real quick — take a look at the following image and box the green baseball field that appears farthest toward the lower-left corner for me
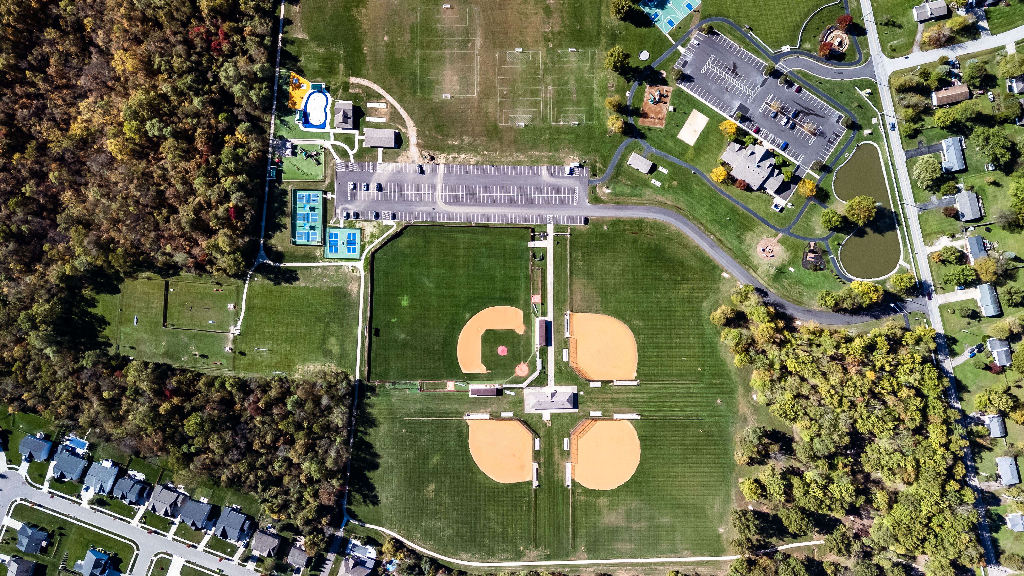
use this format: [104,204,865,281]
[339,254,536,416]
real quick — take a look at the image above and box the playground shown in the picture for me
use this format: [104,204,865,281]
[639,85,672,128]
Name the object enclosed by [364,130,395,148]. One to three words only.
building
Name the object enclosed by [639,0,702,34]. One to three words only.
basketball court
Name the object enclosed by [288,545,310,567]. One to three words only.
house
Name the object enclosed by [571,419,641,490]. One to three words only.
baseball field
